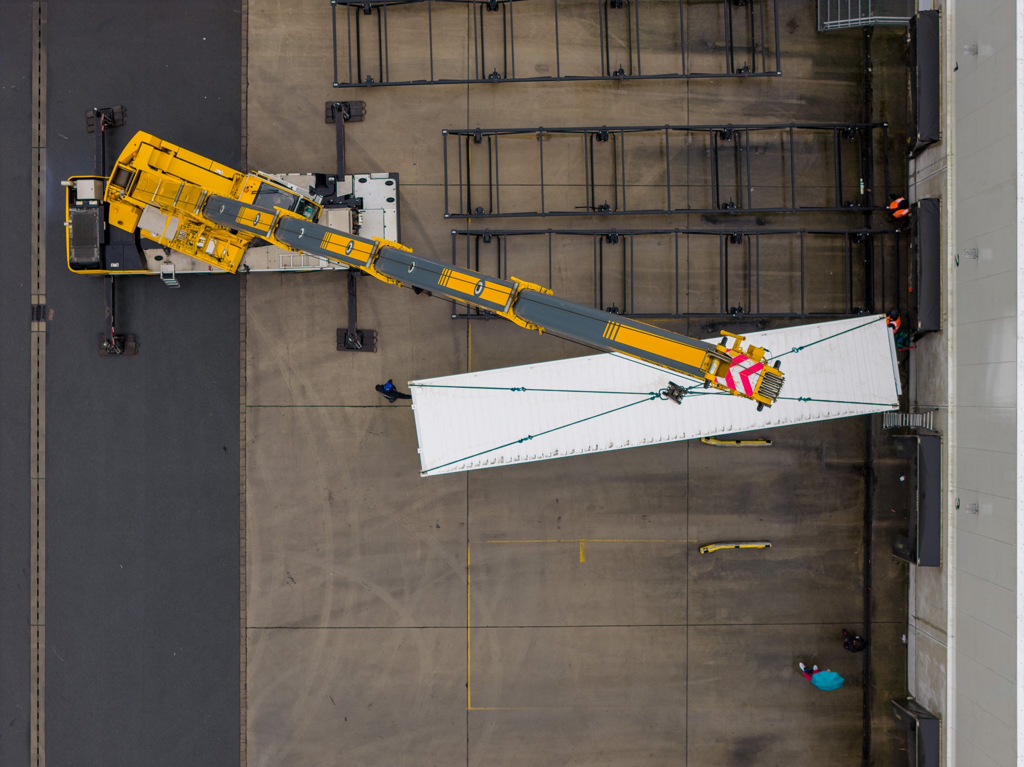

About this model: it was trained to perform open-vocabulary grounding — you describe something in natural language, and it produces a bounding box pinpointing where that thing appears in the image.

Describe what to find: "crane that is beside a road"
[60,101,790,412]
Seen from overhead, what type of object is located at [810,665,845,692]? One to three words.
umbrella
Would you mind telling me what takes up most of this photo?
paved ground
